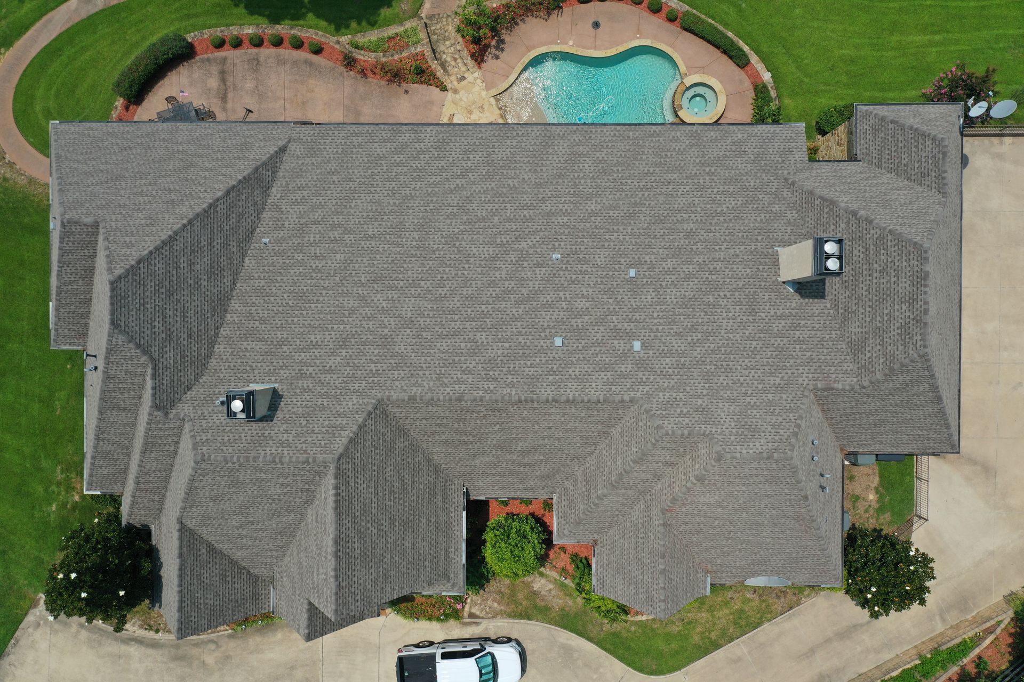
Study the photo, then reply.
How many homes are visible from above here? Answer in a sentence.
I count just 1 home.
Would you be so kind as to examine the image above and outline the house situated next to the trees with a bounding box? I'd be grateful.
[46,101,964,643]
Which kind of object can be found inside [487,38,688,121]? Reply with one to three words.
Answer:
swimming pool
